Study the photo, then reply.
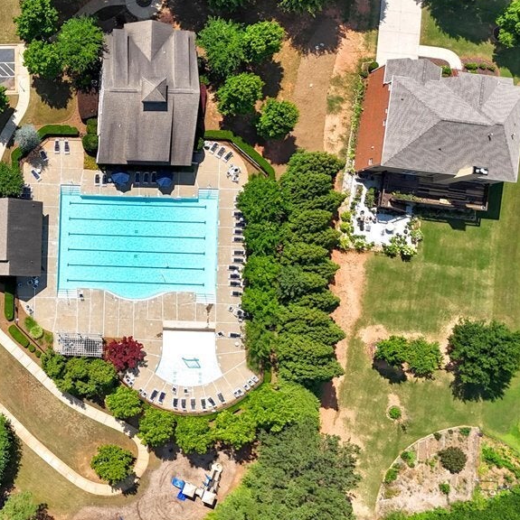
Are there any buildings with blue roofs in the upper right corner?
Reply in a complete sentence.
No, the scene shows no building with a blue roof in the upper right corner.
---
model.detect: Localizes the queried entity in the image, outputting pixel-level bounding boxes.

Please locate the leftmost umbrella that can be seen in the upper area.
[110,167,130,187]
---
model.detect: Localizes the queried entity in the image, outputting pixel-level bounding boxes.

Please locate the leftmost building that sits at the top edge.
[96,20,199,165]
